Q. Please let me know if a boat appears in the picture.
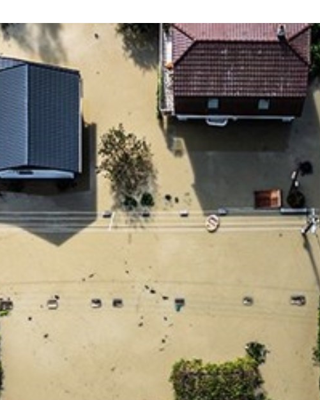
No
